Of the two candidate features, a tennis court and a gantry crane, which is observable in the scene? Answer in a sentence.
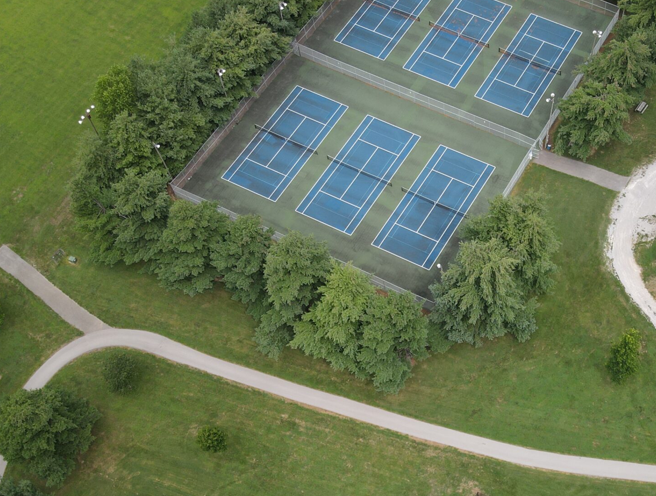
Looking from above, you can make out a tennis court.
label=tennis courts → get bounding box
[296,115,420,235]
[372,144,495,270]
[222,86,348,202]
[403,0,512,89]
[335,0,430,60]
[476,14,582,117]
